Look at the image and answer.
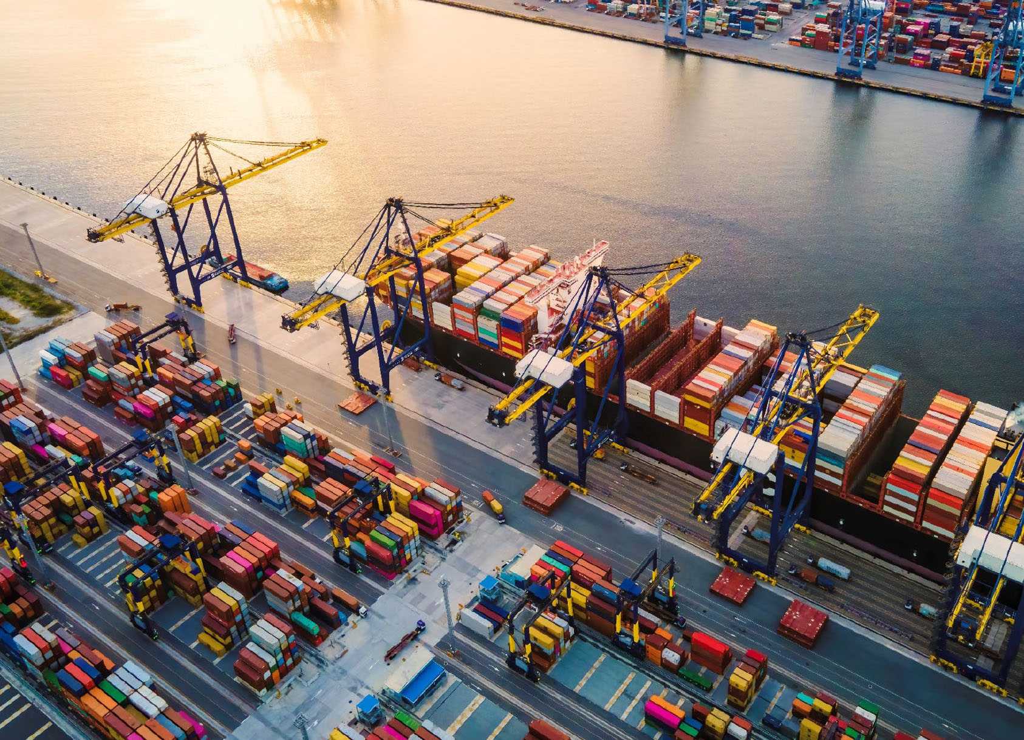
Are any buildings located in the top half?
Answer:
No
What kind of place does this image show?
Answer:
port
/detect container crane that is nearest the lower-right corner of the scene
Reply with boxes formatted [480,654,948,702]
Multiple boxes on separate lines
[935,470,1024,694]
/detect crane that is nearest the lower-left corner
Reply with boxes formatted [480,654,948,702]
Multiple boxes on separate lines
[0,521,35,581]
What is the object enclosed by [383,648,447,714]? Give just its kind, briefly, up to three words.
building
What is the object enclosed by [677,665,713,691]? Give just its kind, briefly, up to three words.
shipping container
